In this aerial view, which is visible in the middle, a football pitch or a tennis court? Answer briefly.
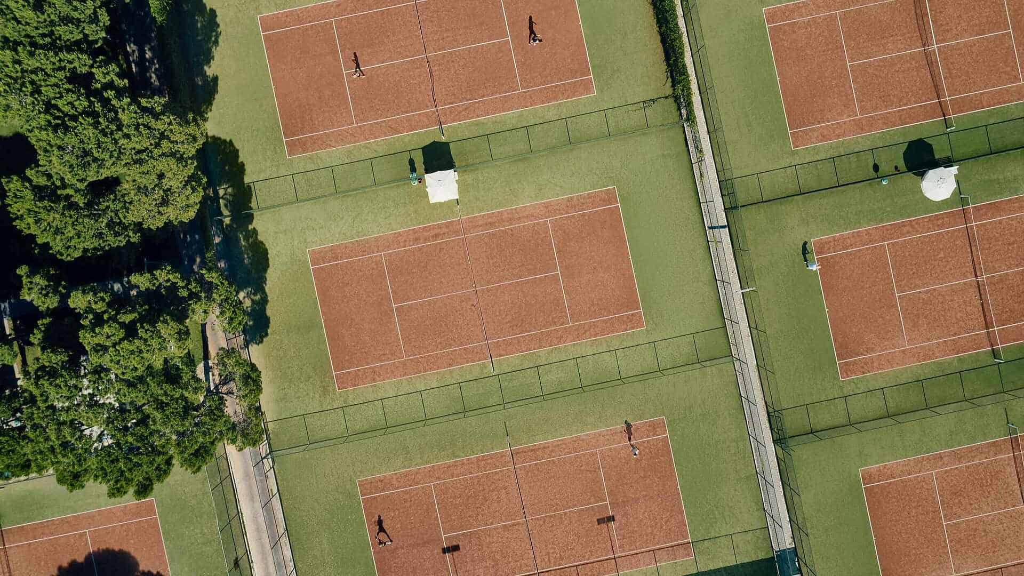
tennis court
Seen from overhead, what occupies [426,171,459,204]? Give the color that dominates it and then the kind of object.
white umbrella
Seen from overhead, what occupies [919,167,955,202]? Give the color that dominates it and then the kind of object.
white umbrella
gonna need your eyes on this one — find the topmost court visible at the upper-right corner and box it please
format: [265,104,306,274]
[764,0,1024,150]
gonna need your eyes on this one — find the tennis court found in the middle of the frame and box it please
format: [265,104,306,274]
[308,186,645,391]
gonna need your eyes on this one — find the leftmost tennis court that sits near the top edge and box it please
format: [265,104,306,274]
[258,0,595,158]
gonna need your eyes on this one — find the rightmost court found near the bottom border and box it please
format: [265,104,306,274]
[859,435,1024,576]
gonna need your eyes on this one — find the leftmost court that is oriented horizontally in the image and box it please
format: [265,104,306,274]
[0,498,169,576]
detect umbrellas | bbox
[919,167,955,202]
[426,171,459,204]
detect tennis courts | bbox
[357,416,694,576]
[859,435,1024,576]
[258,0,595,158]
[0,498,169,576]
[812,196,1024,381]
[764,0,1024,150]
[308,186,645,391]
